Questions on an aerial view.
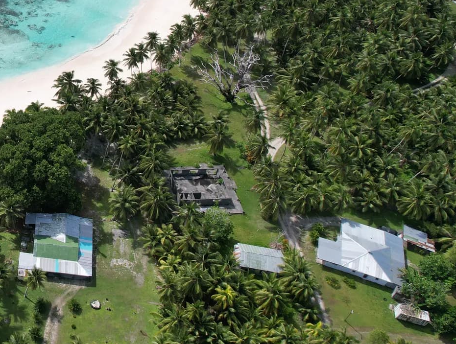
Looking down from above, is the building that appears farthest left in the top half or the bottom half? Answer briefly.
bottom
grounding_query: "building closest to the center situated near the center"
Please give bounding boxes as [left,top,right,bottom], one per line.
[166,163,244,215]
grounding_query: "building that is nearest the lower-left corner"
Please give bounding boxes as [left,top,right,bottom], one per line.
[18,214,93,282]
